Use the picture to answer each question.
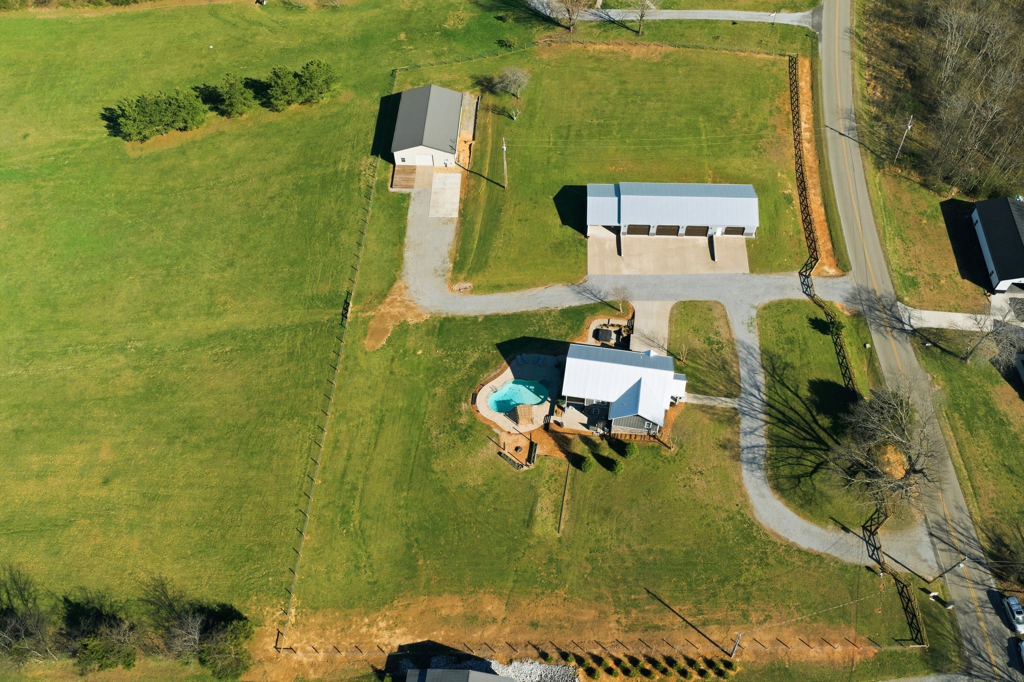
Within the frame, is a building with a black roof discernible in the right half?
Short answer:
Yes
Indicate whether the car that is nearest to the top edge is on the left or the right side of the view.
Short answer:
right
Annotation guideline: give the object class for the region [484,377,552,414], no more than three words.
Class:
swimming pool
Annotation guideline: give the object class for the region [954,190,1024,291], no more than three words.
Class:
house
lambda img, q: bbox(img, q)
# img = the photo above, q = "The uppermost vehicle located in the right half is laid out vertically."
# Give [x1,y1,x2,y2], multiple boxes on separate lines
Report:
[1001,599,1024,642]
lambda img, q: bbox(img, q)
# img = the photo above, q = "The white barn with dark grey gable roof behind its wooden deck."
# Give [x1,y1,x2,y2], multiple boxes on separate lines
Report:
[391,84,463,168]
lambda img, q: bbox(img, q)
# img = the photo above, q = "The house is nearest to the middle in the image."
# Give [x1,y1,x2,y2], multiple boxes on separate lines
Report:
[562,345,686,441]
